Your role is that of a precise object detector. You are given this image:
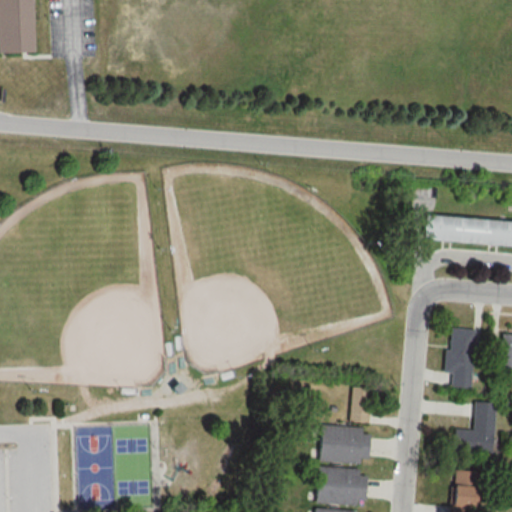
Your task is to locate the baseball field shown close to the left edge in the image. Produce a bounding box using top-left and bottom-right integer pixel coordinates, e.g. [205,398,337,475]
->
[0,172,162,387]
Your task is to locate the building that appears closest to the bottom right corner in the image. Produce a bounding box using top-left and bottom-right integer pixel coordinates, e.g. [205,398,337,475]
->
[450,470,482,510]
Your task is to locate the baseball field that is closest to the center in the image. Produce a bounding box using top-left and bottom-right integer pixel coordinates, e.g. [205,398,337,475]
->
[162,162,390,372]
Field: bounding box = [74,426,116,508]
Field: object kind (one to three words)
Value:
basketball court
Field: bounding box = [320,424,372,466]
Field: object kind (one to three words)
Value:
house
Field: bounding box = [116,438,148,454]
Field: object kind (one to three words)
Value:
sports court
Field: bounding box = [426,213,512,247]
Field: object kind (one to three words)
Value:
building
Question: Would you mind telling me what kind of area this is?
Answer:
sports ground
